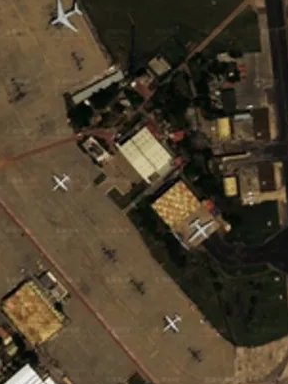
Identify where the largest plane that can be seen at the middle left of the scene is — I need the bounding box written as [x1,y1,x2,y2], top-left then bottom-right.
[54,173,72,192]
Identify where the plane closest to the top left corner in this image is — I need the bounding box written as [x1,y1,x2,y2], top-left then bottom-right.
[52,0,87,31]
